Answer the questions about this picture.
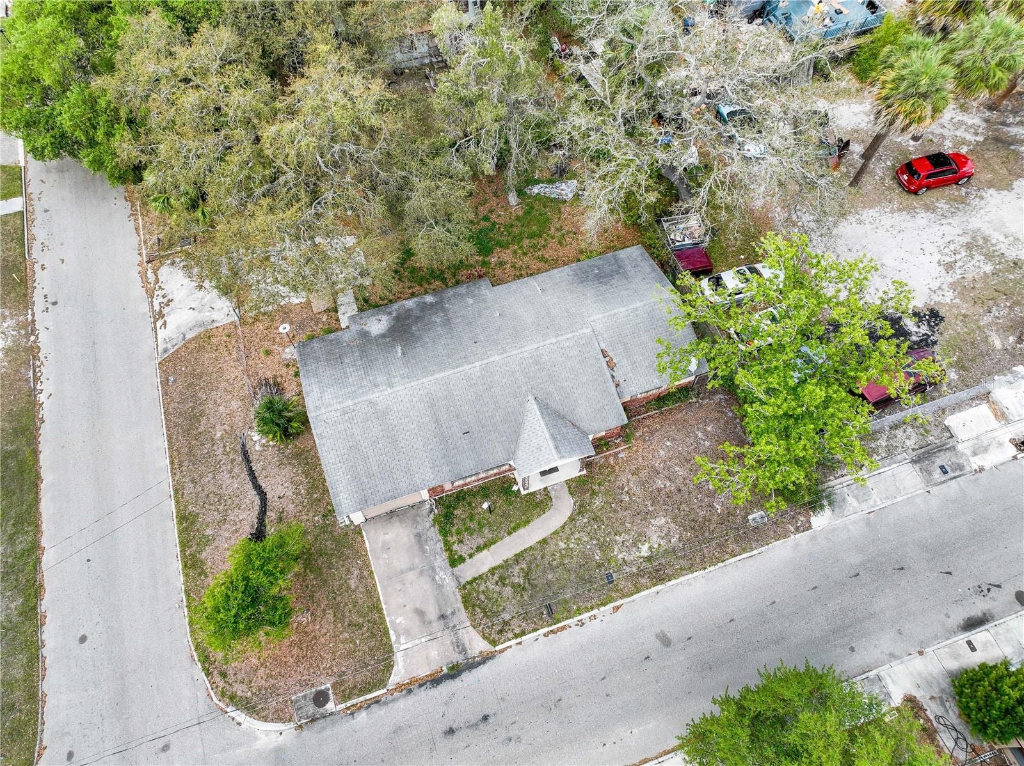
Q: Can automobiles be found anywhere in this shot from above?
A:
Yes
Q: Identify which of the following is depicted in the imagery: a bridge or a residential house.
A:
residential house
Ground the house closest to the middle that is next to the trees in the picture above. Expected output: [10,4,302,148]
[296,247,707,527]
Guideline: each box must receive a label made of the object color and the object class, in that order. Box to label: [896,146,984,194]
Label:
red car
